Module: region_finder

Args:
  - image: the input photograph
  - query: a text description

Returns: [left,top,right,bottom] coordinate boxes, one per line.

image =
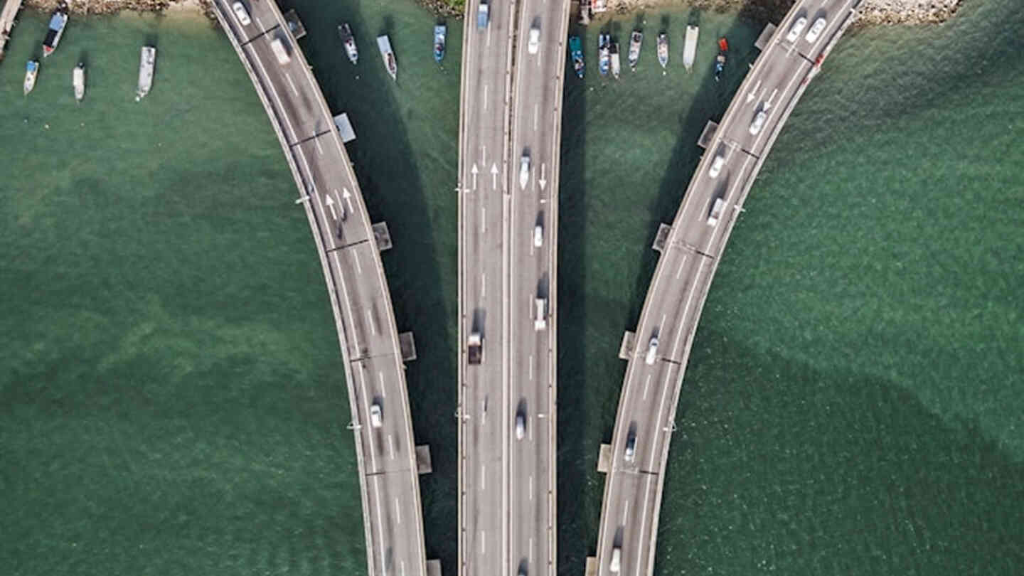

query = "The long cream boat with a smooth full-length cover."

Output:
[683,23,700,83]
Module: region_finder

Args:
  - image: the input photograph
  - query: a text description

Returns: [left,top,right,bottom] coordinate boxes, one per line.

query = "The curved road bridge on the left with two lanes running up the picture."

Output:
[208,0,444,576]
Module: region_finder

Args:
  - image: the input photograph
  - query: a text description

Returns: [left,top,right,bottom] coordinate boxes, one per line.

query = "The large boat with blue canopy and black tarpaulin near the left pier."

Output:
[42,11,68,63]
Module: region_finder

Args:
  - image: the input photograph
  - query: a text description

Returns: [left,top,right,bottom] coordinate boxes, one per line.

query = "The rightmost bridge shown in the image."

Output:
[584,0,867,576]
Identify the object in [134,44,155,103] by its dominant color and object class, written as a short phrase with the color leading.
white boat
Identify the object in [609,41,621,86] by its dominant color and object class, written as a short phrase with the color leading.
white boat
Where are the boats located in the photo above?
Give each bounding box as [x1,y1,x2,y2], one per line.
[570,35,584,79]
[656,32,669,68]
[434,24,446,71]
[598,33,610,83]
[714,34,728,89]
[23,58,40,103]
[339,23,357,69]
[683,23,700,83]
[609,41,621,86]
[134,44,155,103]
[628,29,642,74]
[377,33,399,90]
[74,62,88,107]
[42,11,68,63]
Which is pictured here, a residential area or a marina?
marina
